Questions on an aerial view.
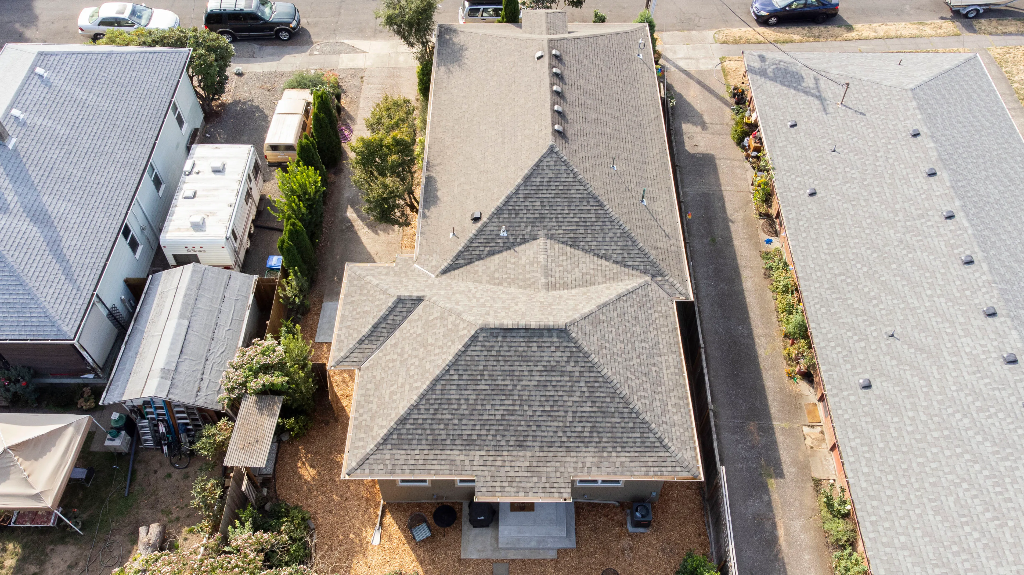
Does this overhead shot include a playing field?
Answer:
No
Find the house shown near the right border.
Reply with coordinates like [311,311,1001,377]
[739,49,1024,575]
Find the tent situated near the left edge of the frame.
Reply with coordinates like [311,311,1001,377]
[0,414,105,538]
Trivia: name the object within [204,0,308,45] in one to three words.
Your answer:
car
